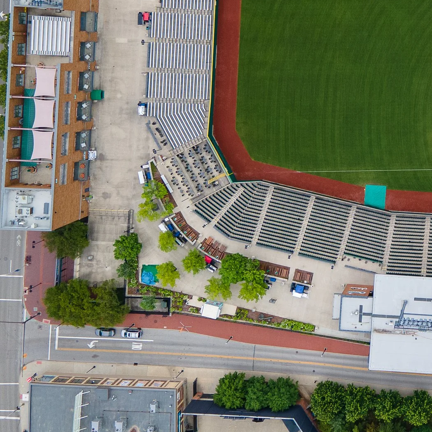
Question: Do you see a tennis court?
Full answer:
No, I can see no tennis court in this picture.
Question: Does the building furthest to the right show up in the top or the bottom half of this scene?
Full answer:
The building furthest to the right sits in the bottom half of the picture.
